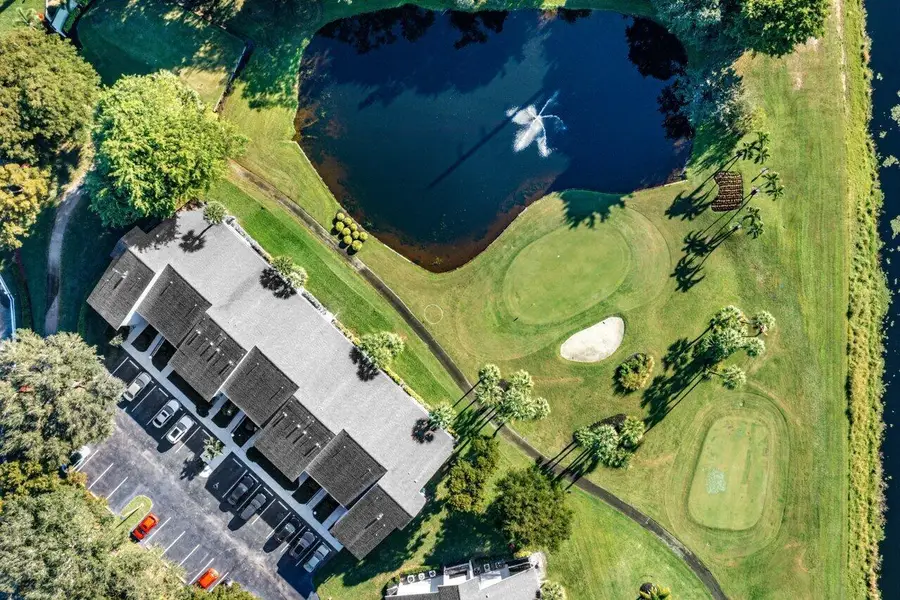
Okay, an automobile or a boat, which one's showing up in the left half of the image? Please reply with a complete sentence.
Visible in the left half of the image is an automobile.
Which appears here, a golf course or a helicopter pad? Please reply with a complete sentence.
The image shows a golf course.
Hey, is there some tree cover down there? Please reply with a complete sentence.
Yes, there is tree cover in the image.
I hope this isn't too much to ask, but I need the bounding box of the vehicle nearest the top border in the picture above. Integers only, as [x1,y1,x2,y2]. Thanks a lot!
[120,371,154,403]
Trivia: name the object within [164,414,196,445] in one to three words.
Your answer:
car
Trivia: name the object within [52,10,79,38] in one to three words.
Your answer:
shed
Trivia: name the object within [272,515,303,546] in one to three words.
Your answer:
car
